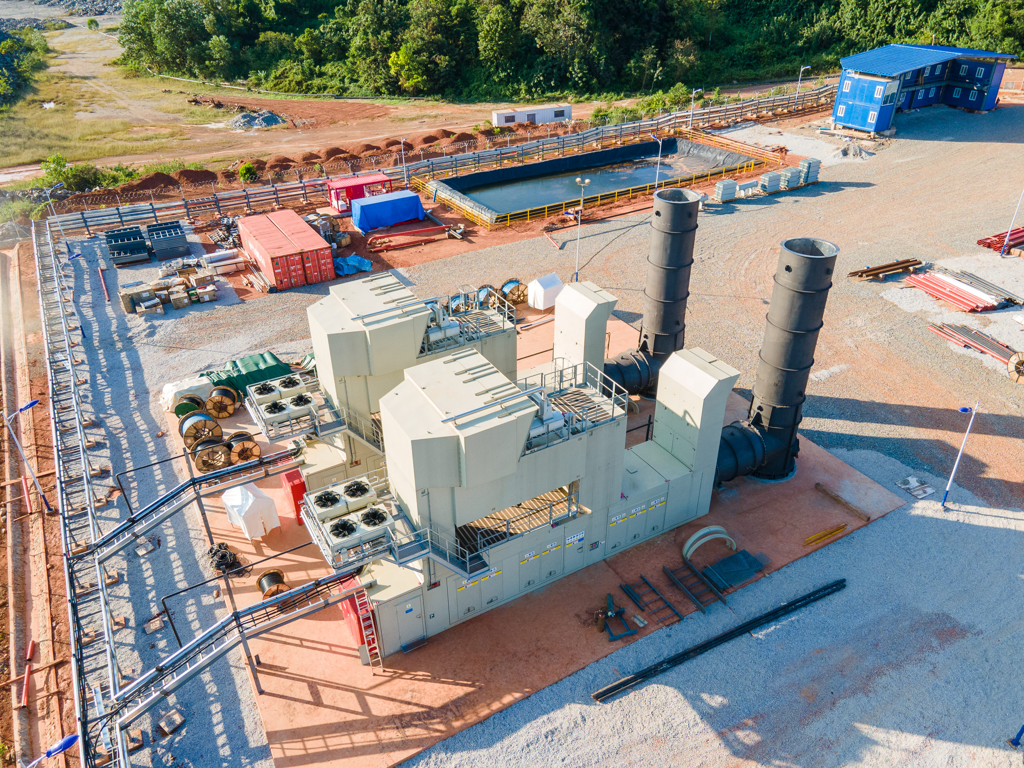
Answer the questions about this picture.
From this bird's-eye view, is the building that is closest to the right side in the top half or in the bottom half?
top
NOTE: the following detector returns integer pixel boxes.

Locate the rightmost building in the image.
[829,44,1018,132]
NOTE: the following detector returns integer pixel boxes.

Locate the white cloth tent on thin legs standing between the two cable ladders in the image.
[221,479,282,547]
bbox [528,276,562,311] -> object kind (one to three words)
tent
